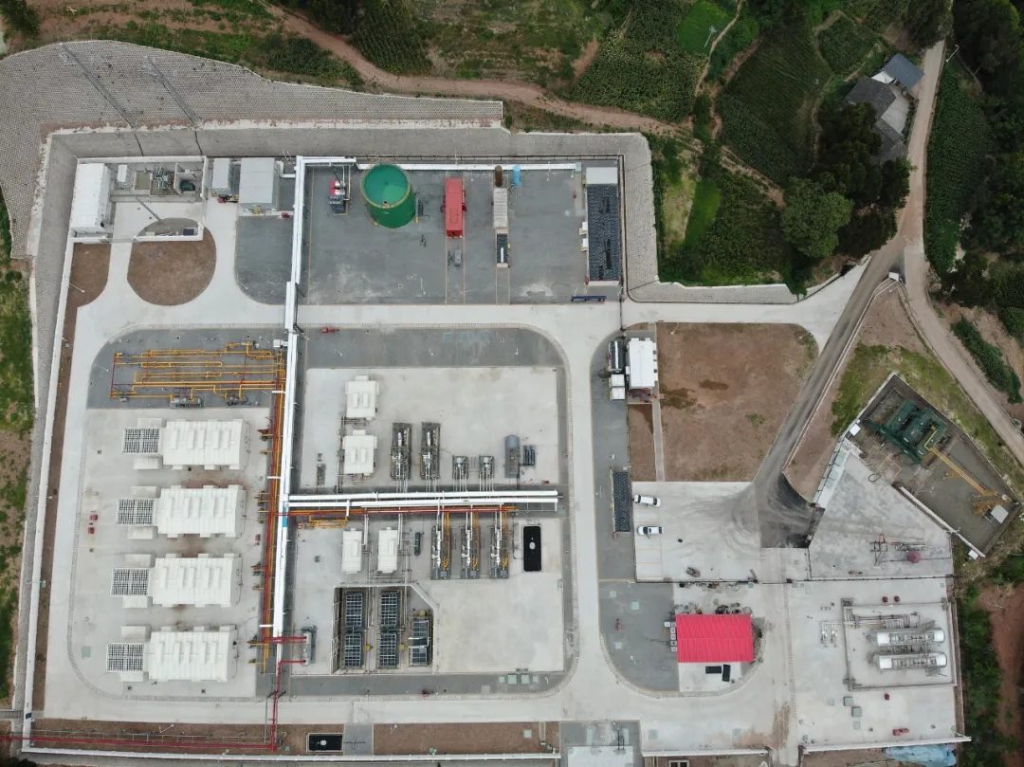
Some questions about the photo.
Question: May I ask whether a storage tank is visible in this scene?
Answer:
Yes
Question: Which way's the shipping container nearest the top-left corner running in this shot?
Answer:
up and down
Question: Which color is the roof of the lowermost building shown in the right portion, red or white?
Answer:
red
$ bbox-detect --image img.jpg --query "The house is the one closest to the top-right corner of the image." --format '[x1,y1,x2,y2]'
[876,55,922,98]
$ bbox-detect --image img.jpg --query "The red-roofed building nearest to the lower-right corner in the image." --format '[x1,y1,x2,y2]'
[673,614,753,662]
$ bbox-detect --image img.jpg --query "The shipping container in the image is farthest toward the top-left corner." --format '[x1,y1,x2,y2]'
[443,178,468,237]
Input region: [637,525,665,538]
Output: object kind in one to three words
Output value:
vehicle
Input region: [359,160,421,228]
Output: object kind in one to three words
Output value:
storage tank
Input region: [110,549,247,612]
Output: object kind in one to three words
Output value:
building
